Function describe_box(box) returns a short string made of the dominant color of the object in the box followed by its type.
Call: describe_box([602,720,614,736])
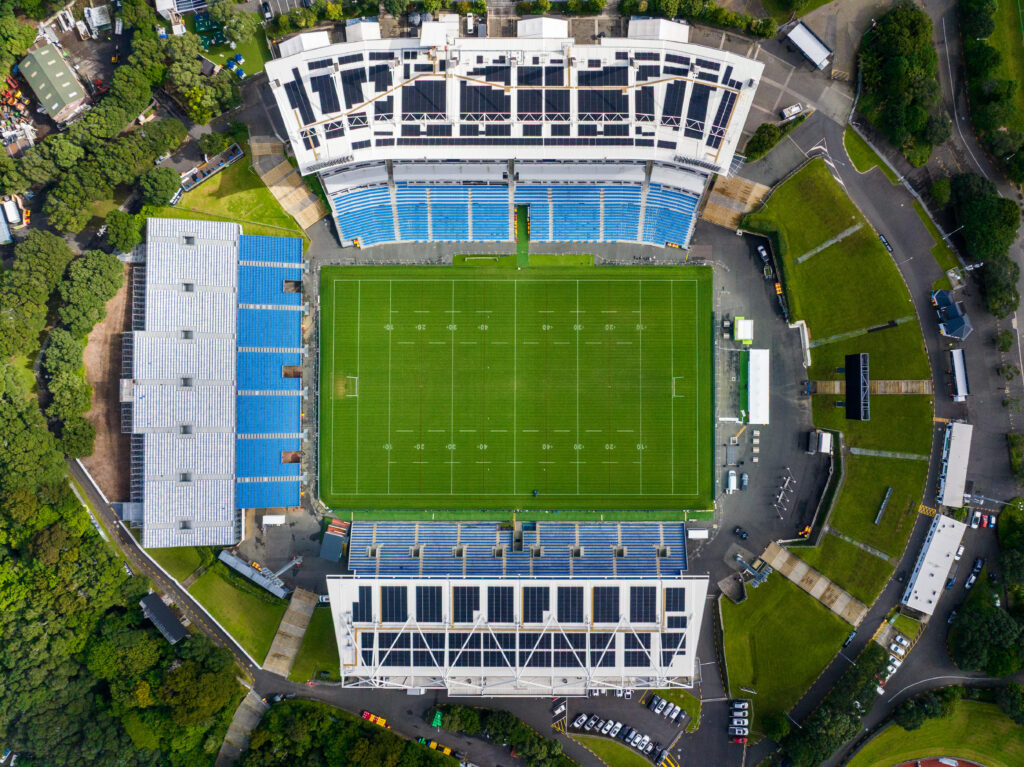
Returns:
white vehicle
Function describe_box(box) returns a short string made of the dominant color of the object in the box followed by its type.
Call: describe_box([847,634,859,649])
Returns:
black vehicle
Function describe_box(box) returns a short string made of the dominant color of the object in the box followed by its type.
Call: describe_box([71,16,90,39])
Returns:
white vehicle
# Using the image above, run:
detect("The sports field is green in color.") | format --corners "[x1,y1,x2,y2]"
[319,266,713,510]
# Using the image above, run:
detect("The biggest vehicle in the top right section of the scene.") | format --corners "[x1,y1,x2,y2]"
[783,101,805,116]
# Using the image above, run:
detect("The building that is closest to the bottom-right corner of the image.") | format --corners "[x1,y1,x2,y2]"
[894,513,967,614]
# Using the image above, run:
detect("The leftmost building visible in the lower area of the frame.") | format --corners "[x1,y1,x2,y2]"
[140,589,194,645]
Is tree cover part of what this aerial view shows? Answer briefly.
Yes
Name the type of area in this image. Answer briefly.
sports ground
